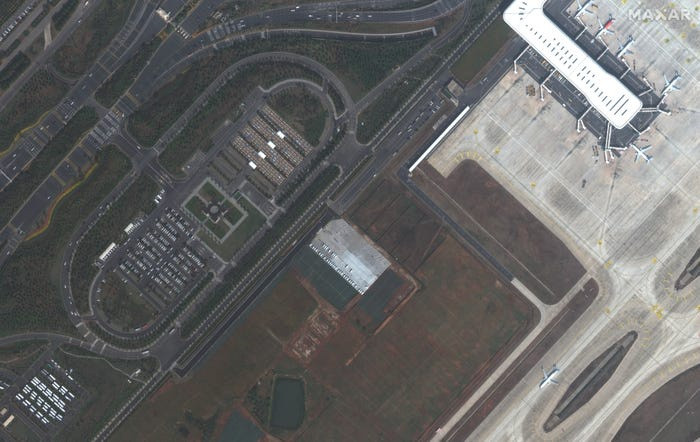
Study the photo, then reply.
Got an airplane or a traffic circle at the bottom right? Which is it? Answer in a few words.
airplane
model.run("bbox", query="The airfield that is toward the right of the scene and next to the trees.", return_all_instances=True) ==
[428,0,700,442]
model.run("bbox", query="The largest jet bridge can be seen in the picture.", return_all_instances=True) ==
[606,123,627,162]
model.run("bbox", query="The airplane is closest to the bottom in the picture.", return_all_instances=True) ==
[541,367,561,387]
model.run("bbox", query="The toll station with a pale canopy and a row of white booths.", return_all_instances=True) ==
[156,8,192,43]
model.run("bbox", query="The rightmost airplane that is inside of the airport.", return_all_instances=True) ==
[662,74,684,94]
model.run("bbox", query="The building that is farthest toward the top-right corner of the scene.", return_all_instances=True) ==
[502,0,643,129]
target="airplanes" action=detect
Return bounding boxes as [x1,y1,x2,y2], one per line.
[630,143,652,164]
[541,367,561,387]
[595,16,617,38]
[662,74,684,94]
[619,36,637,57]
[576,0,596,16]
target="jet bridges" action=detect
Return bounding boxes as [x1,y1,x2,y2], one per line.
[639,79,654,96]
[622,59,632,76]
[541,70,556,100]
[578,107,592,132]
[597,36,610,59]
[576,17,588,40]
[514,44,530,74]
[606,123,627,162]
[642,94,670,114]
[628,122,650,135]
